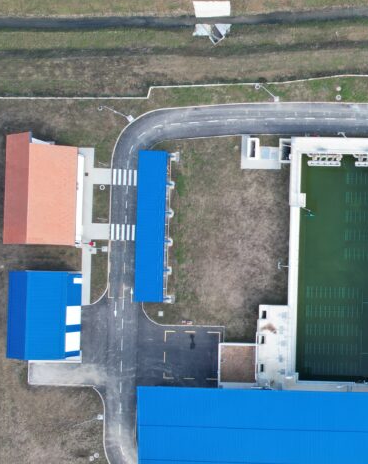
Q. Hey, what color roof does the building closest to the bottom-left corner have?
blue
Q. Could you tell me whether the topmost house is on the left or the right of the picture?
left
